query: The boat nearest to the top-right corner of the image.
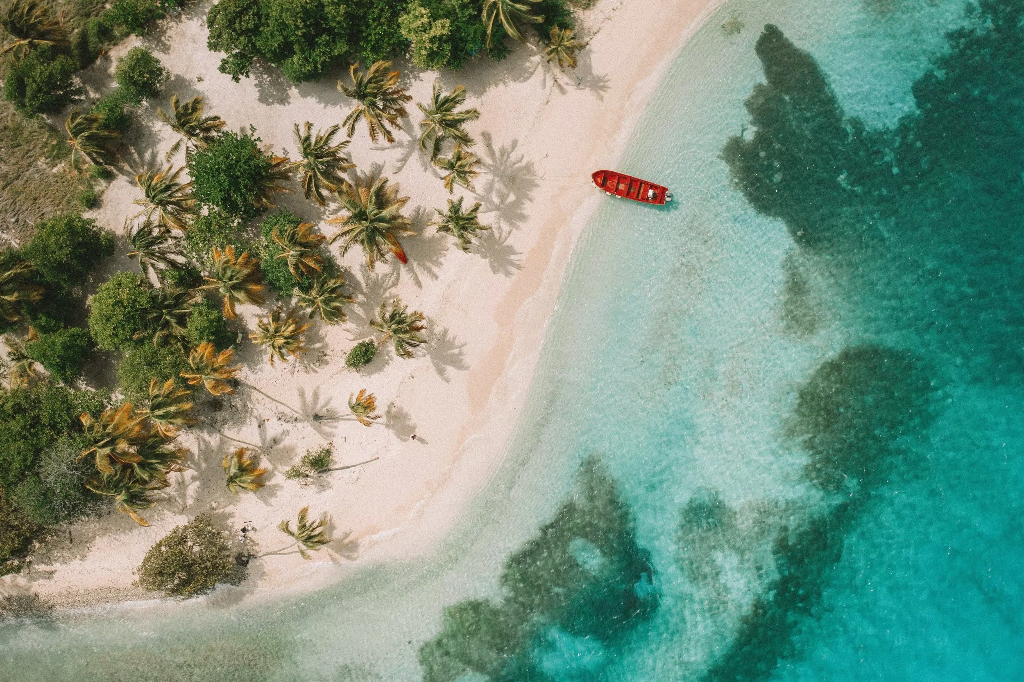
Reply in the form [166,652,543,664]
[591,171,675,203]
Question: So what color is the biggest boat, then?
red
